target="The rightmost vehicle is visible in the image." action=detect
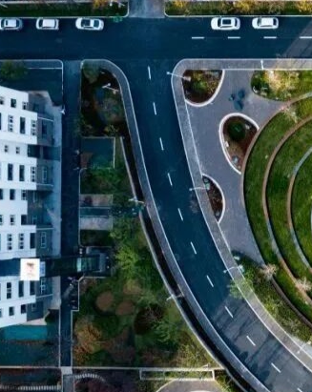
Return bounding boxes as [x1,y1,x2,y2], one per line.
[253,16,280,30]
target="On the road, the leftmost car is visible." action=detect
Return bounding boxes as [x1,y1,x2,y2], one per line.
[0,17,26,31]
